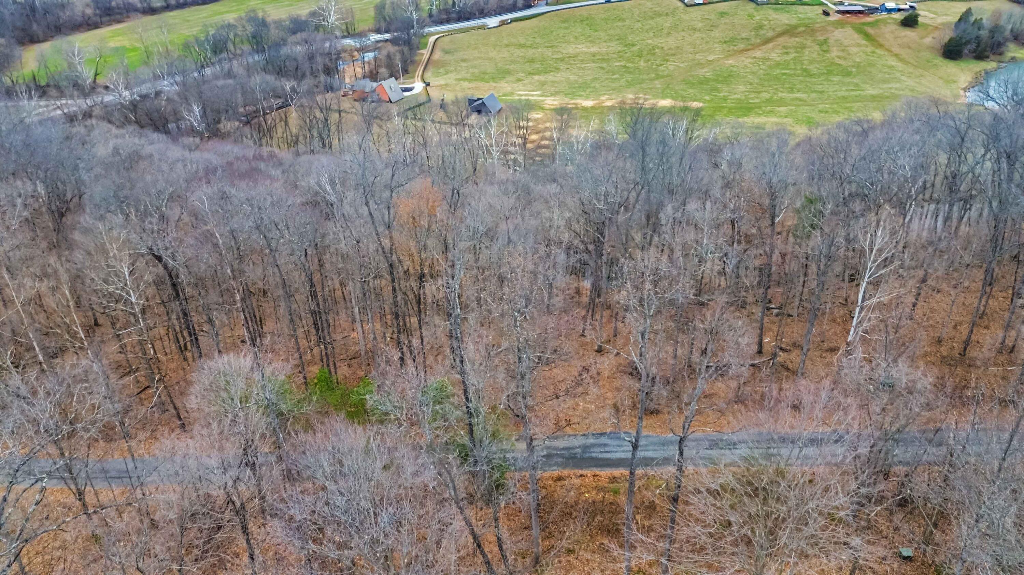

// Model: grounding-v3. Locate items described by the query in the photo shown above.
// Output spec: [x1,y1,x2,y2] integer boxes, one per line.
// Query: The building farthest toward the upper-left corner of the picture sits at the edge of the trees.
[343,75,409,106]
